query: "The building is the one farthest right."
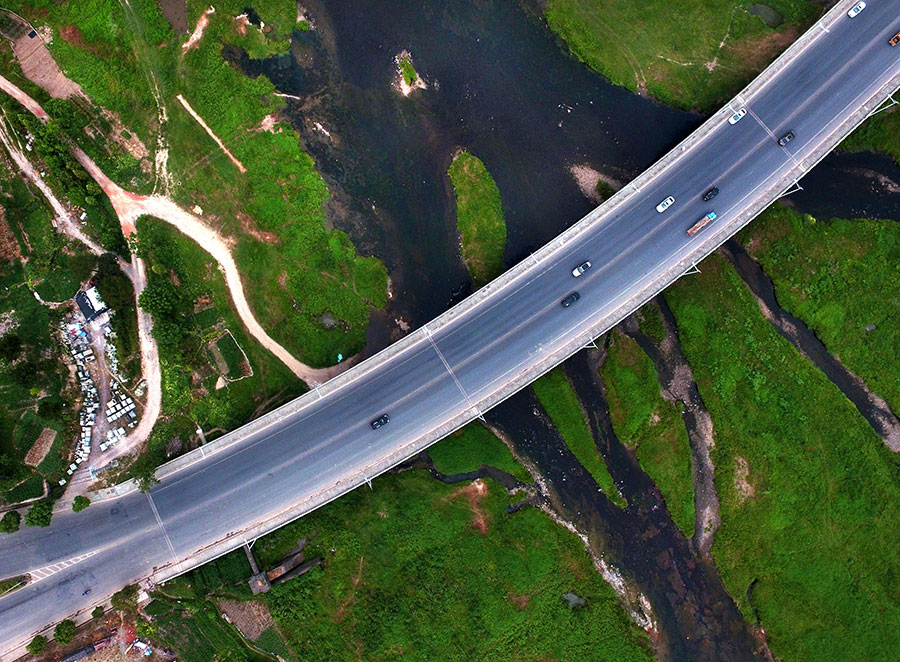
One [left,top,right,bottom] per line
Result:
[246,574,269,600]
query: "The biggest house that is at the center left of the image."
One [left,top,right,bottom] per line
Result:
[70,286,104,322]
